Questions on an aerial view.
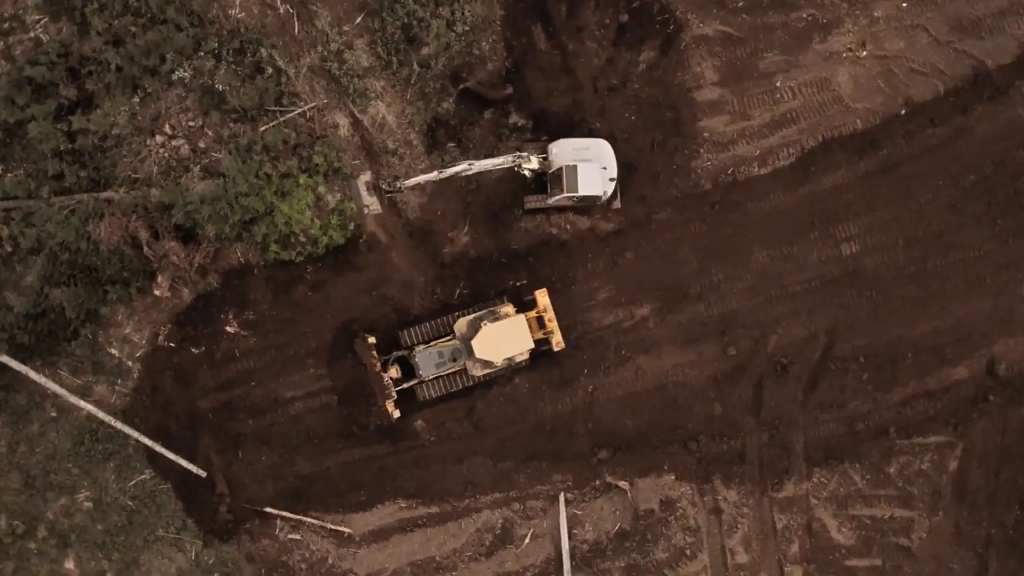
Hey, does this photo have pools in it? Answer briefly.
No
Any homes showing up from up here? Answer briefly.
No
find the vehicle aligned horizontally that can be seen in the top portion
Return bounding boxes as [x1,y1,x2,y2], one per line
[358,138,620,215]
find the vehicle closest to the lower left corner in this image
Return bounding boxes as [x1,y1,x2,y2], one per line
[356,289,565,422]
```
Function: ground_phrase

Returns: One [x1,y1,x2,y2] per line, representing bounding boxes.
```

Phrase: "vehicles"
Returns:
[356,289,565,422]
[358,138,620,215]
